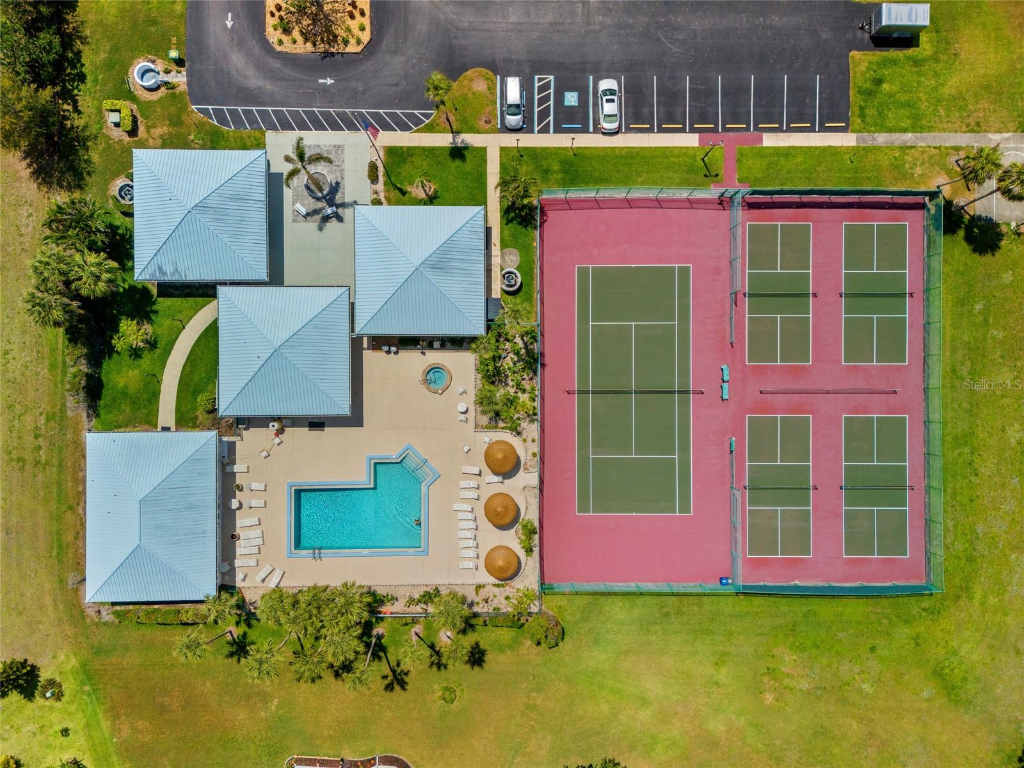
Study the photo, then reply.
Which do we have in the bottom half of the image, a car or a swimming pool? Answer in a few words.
swimming pool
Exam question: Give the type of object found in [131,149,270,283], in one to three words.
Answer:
building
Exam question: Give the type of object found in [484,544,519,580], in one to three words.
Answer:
umbrella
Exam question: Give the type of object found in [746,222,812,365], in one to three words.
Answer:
sports court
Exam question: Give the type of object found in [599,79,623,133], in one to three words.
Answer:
car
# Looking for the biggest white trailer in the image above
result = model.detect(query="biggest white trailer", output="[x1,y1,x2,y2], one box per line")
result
[859,2,930,38]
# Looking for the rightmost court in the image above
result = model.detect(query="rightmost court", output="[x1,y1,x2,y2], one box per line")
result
[975,146,1024,222]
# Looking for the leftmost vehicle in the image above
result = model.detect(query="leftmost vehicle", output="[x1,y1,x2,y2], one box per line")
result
[502,75,526,130]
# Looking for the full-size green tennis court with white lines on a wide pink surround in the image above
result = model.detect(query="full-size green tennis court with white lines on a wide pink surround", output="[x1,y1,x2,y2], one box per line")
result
[539,197,736,583]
